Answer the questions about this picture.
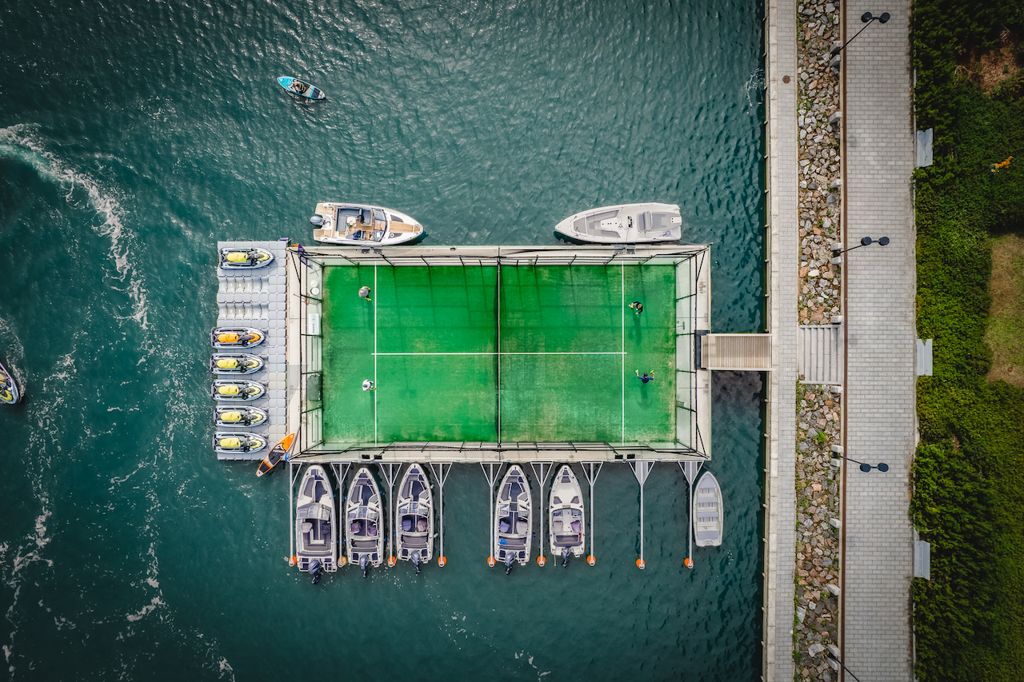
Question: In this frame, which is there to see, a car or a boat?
boat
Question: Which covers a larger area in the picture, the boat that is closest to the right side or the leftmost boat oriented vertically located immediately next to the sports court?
the leftmost boat oriented vertically located immediately next to the sports court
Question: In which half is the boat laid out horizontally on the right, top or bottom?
top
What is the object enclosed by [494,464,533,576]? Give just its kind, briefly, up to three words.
boat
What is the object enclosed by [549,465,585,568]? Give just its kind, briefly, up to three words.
boat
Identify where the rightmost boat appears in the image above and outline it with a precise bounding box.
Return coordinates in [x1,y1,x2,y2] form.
[692,471,723,547]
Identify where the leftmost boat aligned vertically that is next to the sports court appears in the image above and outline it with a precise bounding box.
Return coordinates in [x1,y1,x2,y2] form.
[296,464,338,585]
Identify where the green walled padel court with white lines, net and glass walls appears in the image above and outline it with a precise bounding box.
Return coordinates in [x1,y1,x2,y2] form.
[288,249,708,459]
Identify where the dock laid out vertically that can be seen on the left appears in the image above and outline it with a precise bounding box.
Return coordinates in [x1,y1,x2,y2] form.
[218,241,290,459]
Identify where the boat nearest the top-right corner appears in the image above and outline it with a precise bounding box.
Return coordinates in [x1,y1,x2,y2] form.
[554,202,681,244]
